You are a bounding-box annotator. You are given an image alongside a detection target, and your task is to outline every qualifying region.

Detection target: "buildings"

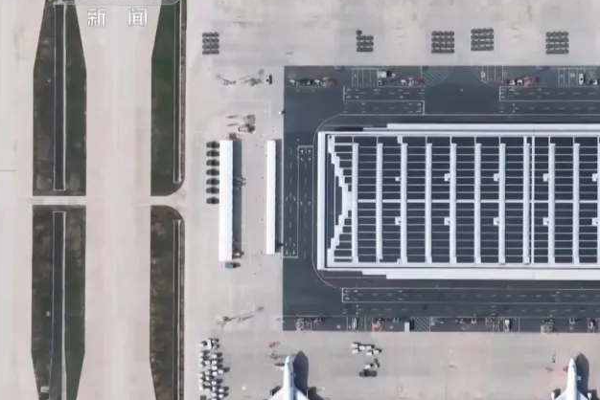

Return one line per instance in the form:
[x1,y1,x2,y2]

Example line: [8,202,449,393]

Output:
[219,139,236,261]
[318,124,600,280]
[266,140,278,255]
